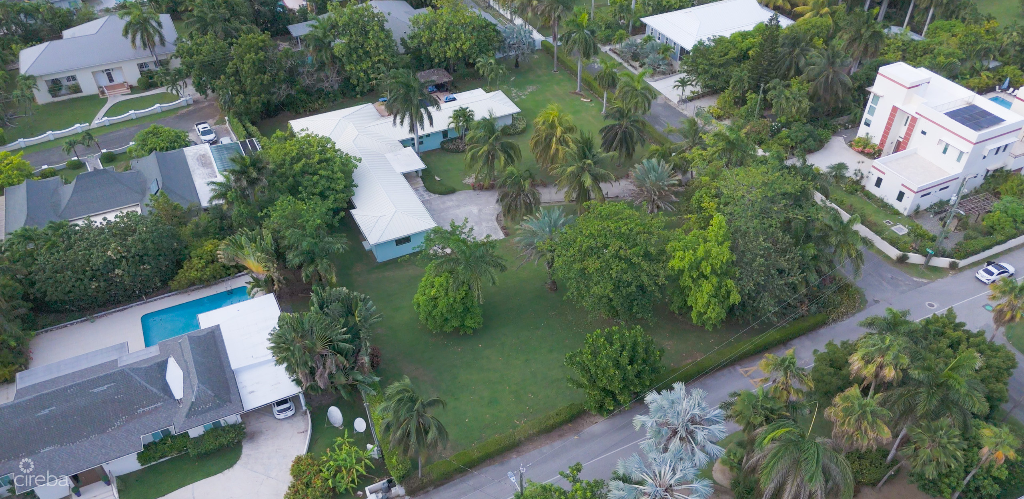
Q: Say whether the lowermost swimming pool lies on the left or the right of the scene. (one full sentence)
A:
The lowermost swimming pool sits on the left side.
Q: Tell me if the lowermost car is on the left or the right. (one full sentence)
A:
The lowermost car sits on the left side.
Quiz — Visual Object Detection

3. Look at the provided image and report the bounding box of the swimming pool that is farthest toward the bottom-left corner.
[0,275,262,396]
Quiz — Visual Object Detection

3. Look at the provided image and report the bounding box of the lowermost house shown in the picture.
[0,293,307,499]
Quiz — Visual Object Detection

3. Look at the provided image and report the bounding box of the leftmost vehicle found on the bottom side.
[273,398,297,427]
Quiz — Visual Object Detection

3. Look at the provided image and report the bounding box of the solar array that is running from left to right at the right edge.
[939,103,1012,132]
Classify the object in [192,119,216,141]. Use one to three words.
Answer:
truck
